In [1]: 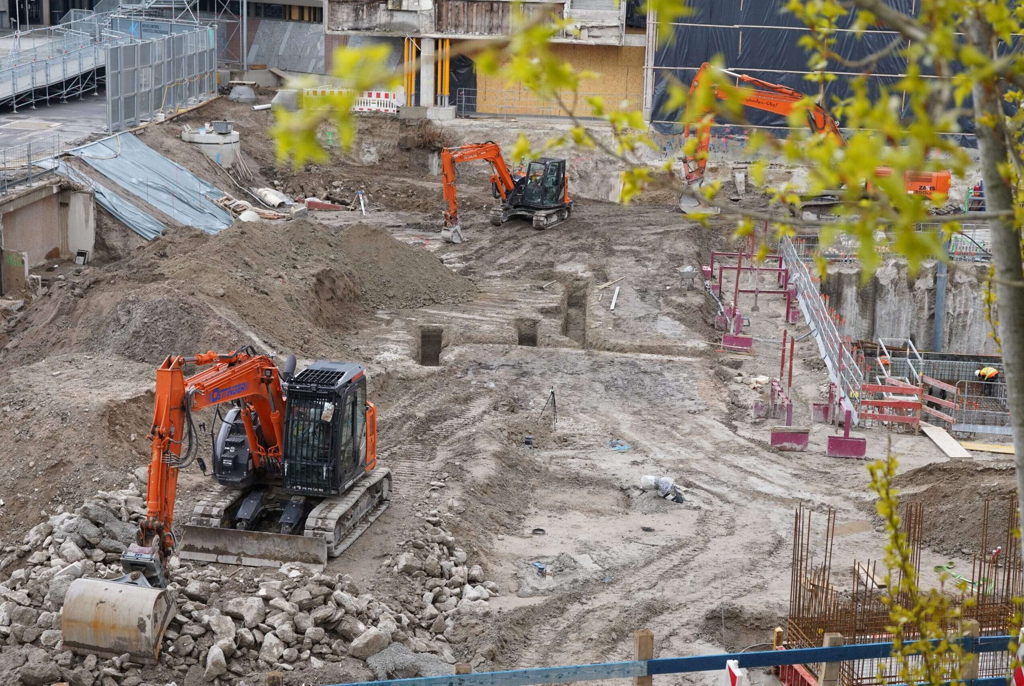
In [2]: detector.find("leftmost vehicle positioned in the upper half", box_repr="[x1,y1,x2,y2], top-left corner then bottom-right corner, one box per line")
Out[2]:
[434,140,575,243]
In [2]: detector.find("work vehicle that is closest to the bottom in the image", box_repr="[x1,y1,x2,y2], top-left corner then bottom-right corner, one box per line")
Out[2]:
[60,344,390,670]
